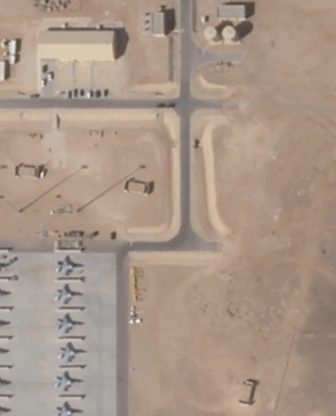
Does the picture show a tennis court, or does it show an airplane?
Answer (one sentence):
I can see an airplane in this picture.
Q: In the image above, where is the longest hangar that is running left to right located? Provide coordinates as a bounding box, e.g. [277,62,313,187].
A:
[37,30,116,61]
